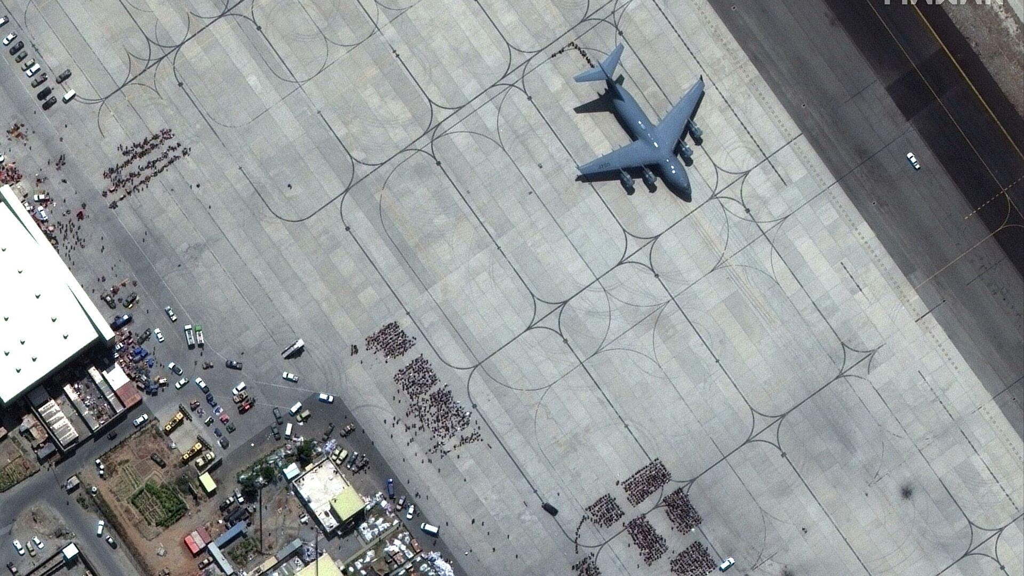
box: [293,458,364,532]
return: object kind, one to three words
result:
building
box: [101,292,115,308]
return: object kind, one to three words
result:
vehicle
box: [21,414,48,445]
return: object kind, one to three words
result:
shed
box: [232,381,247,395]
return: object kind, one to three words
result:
car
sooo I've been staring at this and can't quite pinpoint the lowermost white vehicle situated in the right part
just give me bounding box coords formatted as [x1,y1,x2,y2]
[719,558,735,571]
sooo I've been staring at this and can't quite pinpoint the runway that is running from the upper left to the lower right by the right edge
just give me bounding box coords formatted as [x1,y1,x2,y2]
[823,0,1024,281]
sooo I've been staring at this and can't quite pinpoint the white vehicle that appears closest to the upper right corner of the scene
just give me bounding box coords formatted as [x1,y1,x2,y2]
[908,152,920,169]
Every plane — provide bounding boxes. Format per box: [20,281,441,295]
[573,42,706,197]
